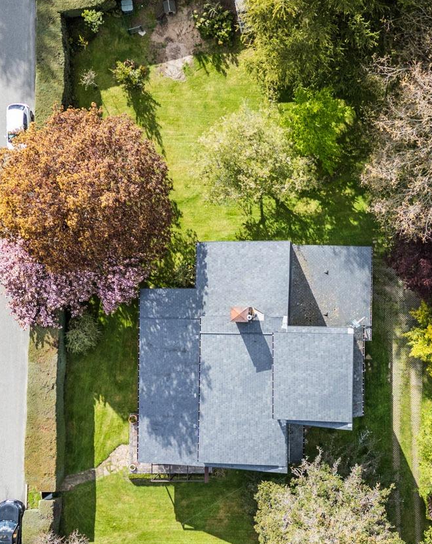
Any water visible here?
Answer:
No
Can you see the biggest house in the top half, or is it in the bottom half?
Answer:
bottom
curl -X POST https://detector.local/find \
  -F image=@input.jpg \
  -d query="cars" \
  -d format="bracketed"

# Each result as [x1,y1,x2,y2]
[0,498,27,544]
[3,98,35,151]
